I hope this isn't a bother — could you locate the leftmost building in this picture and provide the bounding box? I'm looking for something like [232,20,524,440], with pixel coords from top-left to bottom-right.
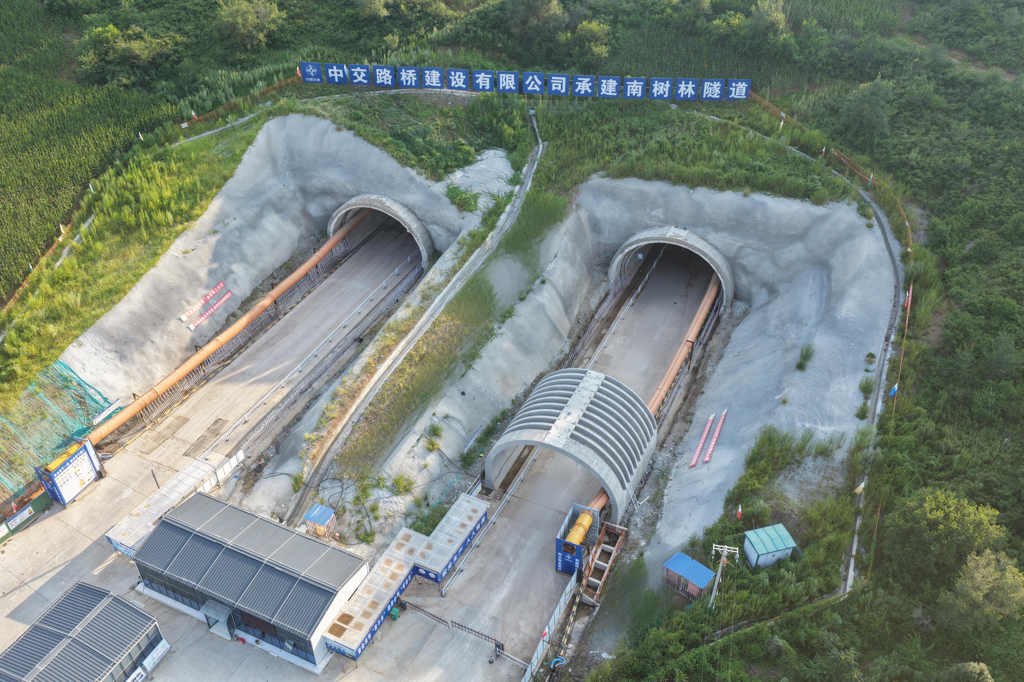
[0,580,159,682]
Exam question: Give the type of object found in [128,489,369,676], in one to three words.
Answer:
house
